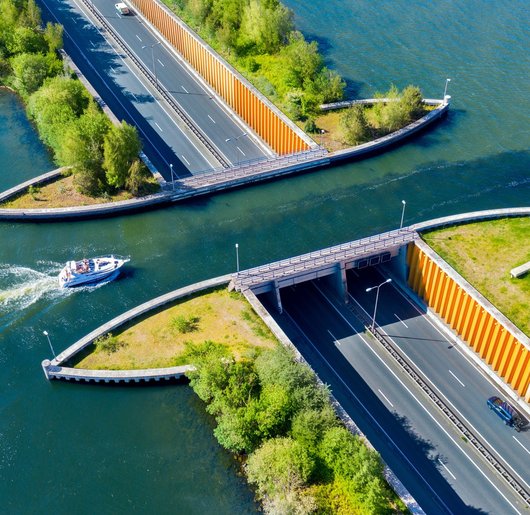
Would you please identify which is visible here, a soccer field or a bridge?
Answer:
bridge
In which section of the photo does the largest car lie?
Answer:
bottom right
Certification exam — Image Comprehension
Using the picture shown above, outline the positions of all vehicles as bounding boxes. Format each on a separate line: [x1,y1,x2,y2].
[117,1,131,13]
[487,396,526,432]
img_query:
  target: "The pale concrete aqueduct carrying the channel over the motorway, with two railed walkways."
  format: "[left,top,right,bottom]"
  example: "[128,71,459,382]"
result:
[159,143,427,314]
